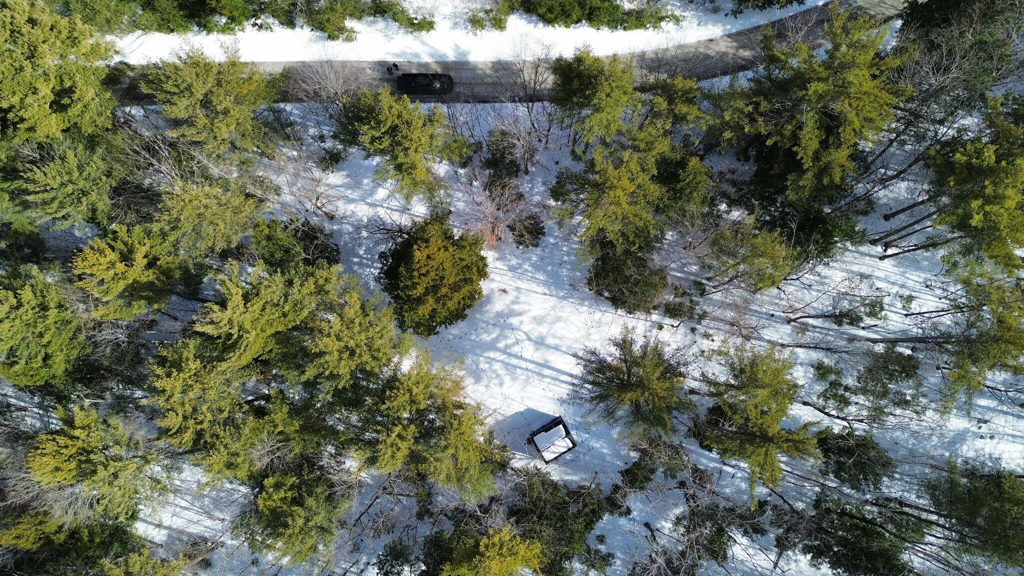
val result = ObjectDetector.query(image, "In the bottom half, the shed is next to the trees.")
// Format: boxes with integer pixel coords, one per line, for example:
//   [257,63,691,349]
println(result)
[529,417,580,467]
